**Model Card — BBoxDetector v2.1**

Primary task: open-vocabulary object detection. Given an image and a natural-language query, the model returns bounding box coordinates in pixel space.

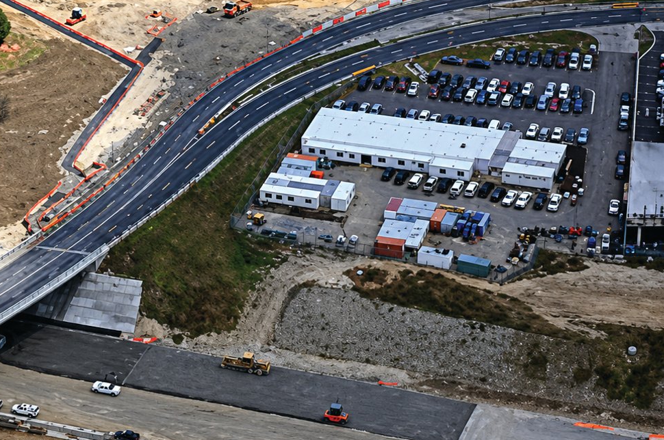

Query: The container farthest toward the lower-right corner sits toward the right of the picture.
[456,253,491,278]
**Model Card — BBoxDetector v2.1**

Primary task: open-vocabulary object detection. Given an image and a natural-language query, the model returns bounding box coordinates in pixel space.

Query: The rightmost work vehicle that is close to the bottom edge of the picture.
[323,403,349,426]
